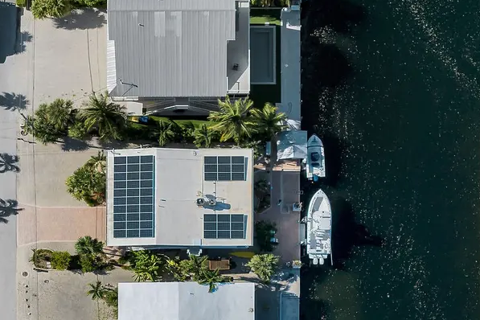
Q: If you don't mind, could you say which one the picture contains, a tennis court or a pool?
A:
pool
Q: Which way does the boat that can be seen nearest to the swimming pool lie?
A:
from top to bottom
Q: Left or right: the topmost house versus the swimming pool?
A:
on the left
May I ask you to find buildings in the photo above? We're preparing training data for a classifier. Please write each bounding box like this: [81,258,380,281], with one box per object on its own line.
[107,149,253,255]
[118,284,255,320]
[107,0,251,119]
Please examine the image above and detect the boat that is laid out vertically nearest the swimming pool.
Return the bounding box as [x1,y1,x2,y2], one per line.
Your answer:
[306,131,326,185]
